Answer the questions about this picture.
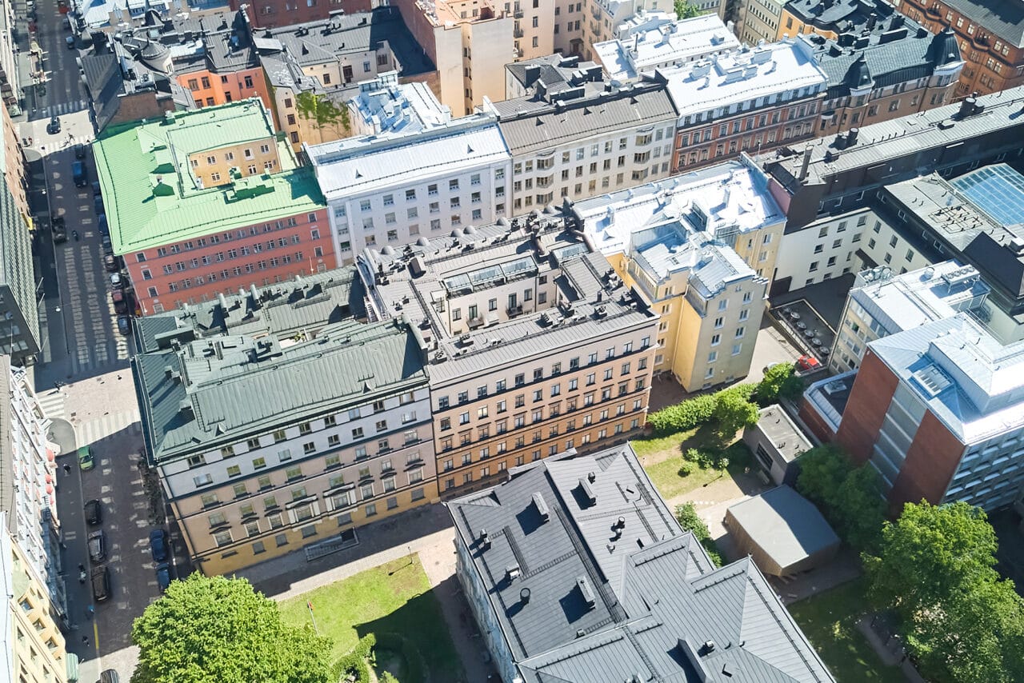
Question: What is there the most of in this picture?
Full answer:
What you mostly see from above here is buildings.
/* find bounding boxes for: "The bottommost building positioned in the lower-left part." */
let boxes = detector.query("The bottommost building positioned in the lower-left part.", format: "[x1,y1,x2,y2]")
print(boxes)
[0,545,84,683]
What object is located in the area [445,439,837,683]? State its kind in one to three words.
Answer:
building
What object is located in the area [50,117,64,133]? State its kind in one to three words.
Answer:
car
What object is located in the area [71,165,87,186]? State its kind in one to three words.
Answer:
vehicle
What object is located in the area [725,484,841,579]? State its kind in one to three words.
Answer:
building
